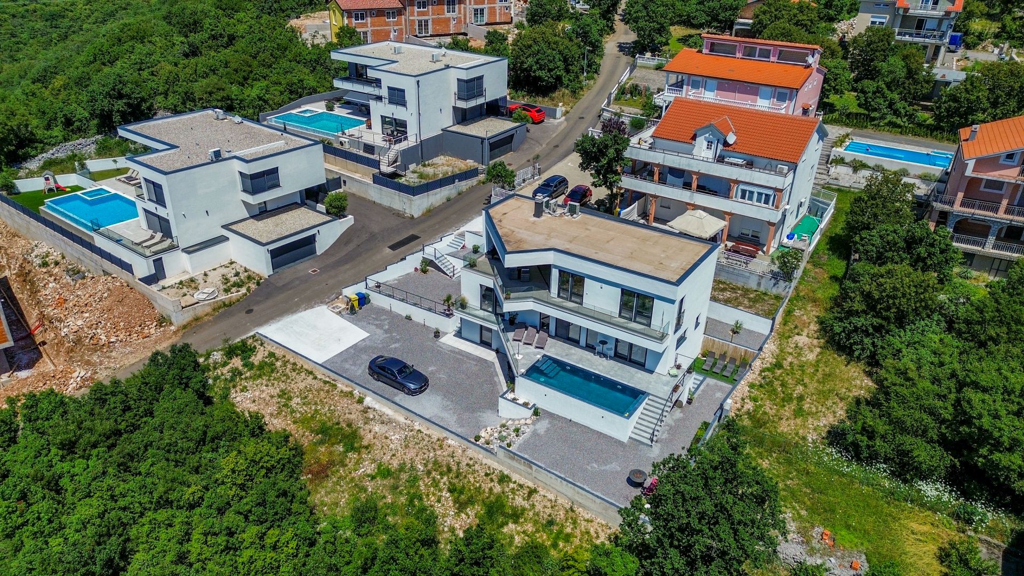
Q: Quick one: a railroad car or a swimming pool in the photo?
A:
swimming pool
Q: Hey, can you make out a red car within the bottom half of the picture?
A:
No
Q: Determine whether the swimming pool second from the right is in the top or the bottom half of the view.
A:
bottom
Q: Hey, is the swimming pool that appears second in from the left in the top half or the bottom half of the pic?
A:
top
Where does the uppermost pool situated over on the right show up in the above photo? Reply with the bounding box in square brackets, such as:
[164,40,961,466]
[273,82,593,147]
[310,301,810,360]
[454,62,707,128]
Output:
[820,135,952,183]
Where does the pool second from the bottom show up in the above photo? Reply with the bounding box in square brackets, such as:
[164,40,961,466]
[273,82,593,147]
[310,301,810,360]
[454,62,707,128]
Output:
[41,186,140,244]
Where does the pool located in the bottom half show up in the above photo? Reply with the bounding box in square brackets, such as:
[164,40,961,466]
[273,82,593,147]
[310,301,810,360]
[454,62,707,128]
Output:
[518,354,650,442]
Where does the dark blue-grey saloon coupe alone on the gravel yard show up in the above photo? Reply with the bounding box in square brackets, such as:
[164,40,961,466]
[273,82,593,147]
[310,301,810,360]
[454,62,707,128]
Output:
[368,357,431,396]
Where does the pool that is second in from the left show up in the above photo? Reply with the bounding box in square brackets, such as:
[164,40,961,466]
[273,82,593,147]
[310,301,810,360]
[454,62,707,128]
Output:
[264,107,367,144]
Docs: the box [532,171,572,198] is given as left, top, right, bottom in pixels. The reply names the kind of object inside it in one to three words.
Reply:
car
